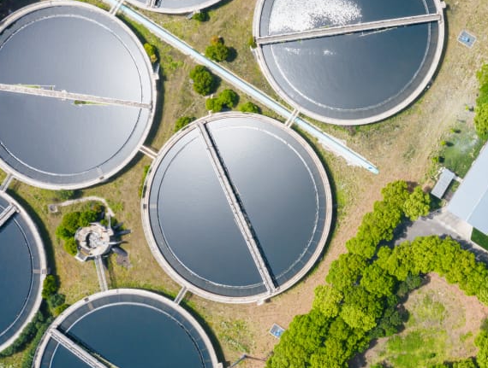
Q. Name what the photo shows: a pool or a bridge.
bridge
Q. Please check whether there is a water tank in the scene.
Yes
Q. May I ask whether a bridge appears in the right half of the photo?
Yes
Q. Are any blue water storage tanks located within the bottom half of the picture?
Yes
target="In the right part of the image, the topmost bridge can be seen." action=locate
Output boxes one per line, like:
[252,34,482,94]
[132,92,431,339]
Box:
[253,11,444,47]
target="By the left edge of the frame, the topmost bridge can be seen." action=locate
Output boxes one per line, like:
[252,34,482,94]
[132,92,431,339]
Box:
[0,82,158,112]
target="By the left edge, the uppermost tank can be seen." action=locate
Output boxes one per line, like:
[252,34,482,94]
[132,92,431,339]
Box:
[0,0,167,190]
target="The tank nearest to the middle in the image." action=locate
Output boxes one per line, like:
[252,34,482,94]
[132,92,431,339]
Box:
[142,110,335,306]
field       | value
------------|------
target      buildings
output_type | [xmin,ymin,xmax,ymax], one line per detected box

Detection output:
[447,141,488,235]
[432,168,455,199]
